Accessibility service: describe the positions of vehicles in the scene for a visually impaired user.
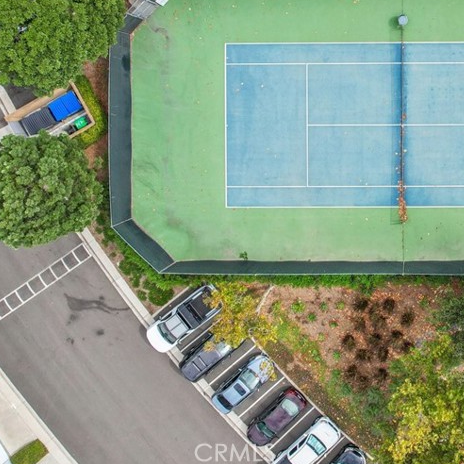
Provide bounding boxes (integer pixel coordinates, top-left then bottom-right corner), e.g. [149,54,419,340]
[248,383,310,446]
[174,324,245,387]
[269,413,340,464]
[212,350,278,415]
[147,283,225,351]
[326,440,369,464]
